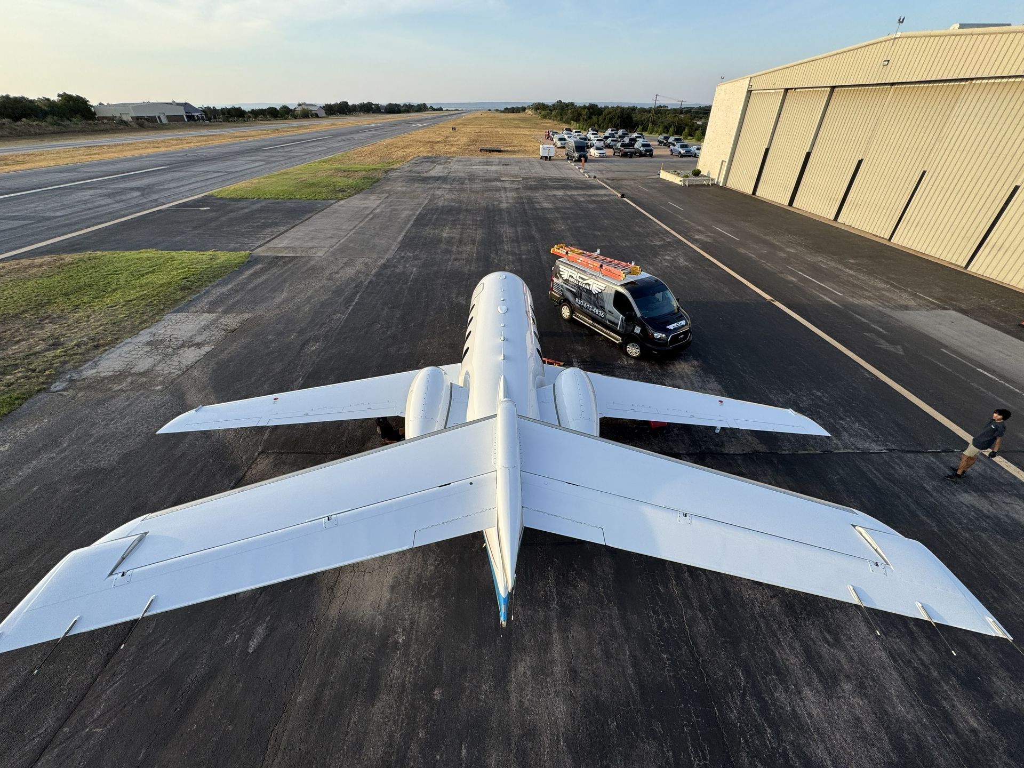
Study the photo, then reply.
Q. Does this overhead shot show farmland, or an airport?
airport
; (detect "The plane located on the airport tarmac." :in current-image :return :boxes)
[0,268,1024,680]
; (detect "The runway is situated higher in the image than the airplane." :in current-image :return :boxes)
[0,110,484,254]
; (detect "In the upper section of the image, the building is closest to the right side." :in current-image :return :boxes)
[689,13,1024,288]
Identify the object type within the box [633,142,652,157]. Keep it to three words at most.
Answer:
car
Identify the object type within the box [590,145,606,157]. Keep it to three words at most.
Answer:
vehicle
